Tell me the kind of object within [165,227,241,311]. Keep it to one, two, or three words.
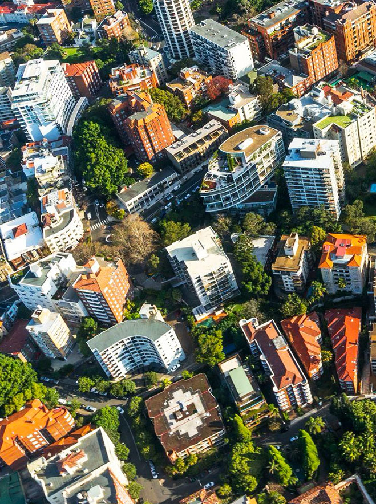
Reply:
building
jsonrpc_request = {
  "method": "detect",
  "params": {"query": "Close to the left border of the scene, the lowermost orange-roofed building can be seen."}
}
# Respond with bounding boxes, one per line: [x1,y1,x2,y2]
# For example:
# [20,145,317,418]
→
[0,397,94,482]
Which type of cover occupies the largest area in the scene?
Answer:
buildings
